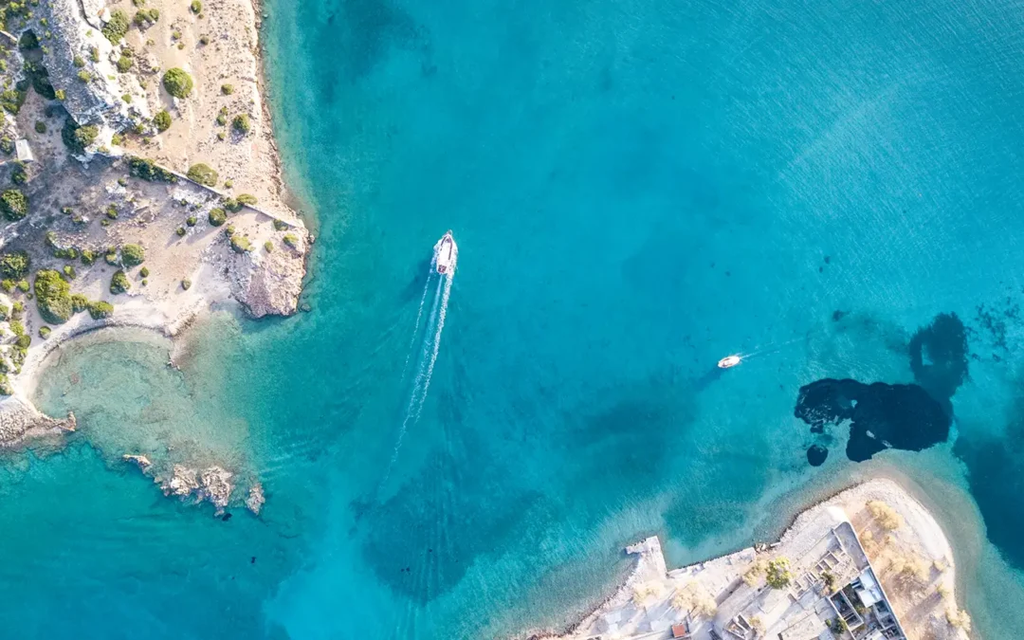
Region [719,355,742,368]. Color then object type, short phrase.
white boat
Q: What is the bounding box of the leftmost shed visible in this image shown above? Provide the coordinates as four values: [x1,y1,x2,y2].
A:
[16,139,37,161]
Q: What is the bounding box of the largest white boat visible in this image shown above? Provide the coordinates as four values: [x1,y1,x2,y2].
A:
[435,227,453,276]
